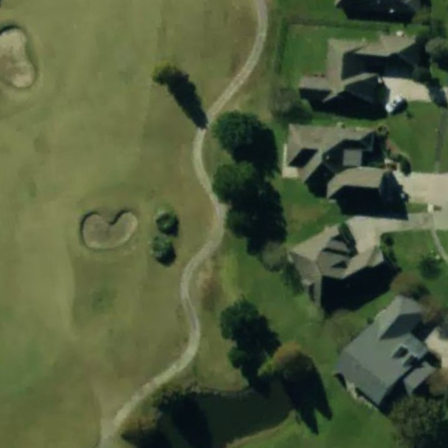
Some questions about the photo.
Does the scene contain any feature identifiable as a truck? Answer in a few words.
No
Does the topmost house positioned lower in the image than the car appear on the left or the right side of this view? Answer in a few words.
right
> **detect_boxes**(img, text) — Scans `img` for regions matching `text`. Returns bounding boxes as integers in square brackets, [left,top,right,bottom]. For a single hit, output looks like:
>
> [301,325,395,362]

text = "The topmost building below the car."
[288,124,393,206]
